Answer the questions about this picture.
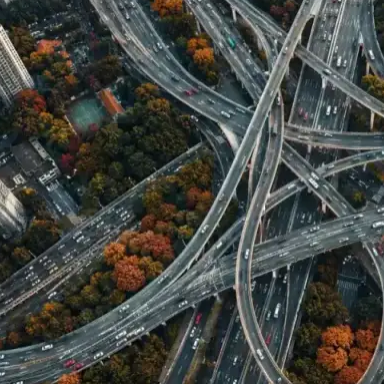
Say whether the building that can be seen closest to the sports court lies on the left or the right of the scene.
left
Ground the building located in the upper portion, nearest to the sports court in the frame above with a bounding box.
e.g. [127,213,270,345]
[97,89,127,122]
